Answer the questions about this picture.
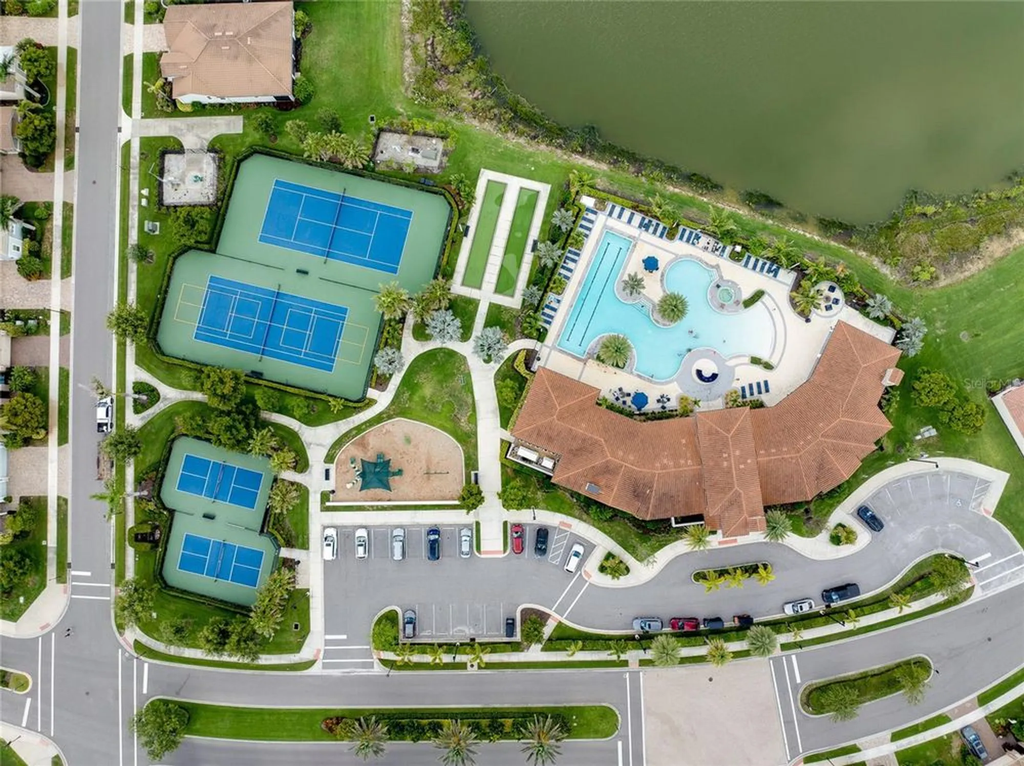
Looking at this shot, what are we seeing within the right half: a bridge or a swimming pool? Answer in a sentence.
It is a swimming pool that can be seen within the right half.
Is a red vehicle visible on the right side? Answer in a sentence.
Yes, the scene does show a red vehicle on the right side.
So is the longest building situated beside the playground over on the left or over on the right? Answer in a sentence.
It is on the right.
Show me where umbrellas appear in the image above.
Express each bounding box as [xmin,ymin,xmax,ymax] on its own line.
[631,393,647,409]
[642,256,658,272]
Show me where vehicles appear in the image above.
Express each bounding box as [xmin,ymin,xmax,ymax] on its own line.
[459,527,472,557]
[959,725,990,761]
[404,608,416,639]
[97,397,114,432]
[535,527,548,558]
[821,584,860,603]
[506,616,515,637]
[734,615,756,628]
[857,504,884,533]
[782,599,815,616]
[391,528,405,560]
[426,527,441,561]
[354,528,368,559]
[322,527,338,560]
[669,617,700,633]
[704,617,725,631]
[511,524,524,554]
[565,542,583,575]
[632,617,663,633]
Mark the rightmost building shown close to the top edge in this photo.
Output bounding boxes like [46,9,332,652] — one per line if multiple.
[160,0,297,104]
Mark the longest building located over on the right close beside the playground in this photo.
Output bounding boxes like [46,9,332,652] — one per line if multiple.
[512,319,909,542]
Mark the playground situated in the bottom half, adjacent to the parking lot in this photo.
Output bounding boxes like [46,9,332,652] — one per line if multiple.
[328,417,466,504]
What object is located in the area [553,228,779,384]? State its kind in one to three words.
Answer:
swimming pool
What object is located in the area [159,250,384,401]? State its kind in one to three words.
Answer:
tennis court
